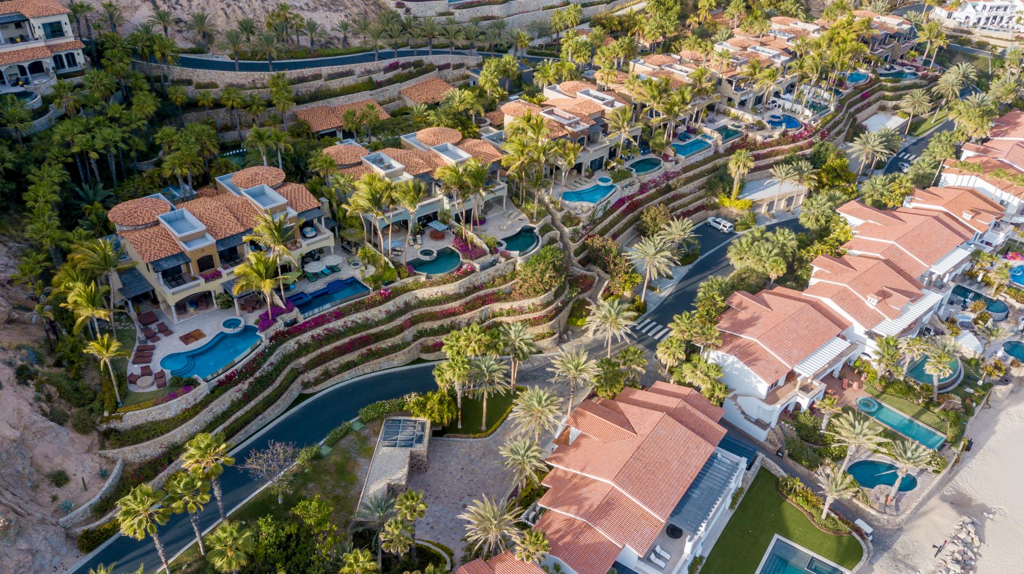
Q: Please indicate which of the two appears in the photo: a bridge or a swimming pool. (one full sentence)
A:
It is a swimming pool that can be seen here.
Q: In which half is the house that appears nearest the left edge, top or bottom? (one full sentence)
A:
It is in the top half that the house that appears nearest the left edge appears.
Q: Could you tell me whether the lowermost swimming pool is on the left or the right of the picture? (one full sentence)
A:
It is on the right.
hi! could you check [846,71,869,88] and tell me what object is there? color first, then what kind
blue swimming pool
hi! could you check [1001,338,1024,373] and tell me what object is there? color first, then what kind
blue swimming pool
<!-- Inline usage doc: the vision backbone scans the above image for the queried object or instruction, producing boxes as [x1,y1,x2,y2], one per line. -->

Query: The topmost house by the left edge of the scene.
[0,6,87,79]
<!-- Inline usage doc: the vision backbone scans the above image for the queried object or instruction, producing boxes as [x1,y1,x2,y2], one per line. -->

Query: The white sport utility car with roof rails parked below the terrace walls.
[707,215,737,232]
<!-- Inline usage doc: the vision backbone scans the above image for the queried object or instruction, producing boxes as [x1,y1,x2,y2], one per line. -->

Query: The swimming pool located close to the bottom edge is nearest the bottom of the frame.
[747,533,852,574]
